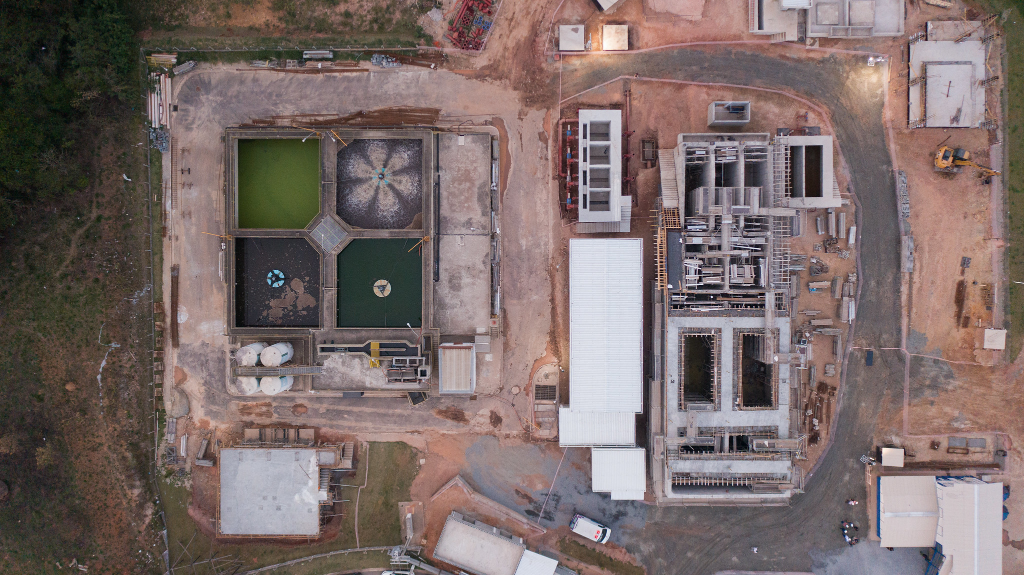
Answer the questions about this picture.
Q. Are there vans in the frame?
Yes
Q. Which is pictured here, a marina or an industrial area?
industrial area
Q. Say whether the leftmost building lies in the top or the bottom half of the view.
bottom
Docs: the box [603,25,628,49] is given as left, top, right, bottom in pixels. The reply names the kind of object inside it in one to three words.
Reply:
shed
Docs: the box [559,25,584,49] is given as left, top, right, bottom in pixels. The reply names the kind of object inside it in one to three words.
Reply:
shed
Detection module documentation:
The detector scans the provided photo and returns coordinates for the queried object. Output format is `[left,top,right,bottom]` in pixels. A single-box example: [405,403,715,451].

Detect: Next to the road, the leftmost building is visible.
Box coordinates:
[217,440,345,538]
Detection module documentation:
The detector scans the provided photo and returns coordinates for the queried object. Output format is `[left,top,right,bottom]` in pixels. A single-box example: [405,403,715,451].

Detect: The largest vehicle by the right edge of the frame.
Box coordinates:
[929,146,1003,179]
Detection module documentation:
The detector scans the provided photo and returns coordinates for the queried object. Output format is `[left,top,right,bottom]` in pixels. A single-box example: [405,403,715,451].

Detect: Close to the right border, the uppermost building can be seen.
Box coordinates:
[905,8,1000,128]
